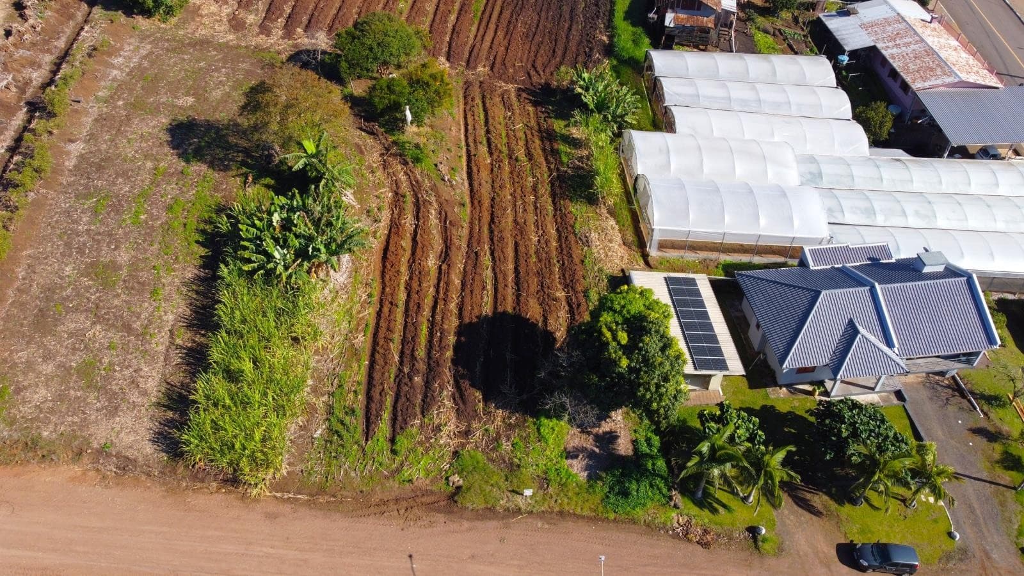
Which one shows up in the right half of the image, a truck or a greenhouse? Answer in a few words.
greenhouse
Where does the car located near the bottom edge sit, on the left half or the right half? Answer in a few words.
right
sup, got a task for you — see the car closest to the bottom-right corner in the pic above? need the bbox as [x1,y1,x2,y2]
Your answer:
[852,537,924,576]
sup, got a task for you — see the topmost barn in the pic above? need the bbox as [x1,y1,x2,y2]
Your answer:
[648,0,738,45]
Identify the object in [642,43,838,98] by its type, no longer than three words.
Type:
greenhouse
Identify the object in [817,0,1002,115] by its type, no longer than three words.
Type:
house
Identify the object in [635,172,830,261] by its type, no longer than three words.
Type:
greenhouse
